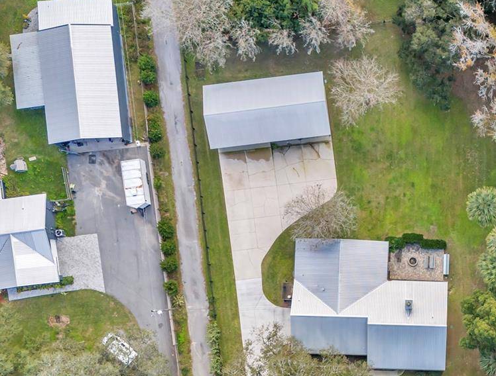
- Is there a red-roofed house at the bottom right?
No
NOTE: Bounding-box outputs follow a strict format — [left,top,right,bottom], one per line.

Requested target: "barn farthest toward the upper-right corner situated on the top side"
[203,71,332,151]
